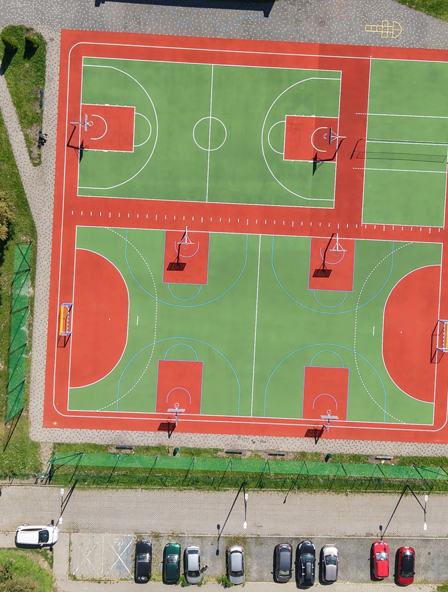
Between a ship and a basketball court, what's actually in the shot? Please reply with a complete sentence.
This aerial view contains a basketball court.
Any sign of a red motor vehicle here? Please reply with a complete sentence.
Yes, you can see a red motor vehicle in this photo.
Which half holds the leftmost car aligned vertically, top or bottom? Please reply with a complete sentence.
You can find the leftmost car aligned vertically in the bottom half.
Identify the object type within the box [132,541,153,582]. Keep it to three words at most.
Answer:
car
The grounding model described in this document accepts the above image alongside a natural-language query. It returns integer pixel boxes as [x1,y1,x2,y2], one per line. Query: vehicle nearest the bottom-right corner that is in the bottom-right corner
[396,546,416,584]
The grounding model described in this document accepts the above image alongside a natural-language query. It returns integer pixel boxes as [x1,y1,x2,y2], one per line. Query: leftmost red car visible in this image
[372,539,391,579]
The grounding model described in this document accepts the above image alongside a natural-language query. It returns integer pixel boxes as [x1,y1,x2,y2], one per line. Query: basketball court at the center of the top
[76,56,341,208]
